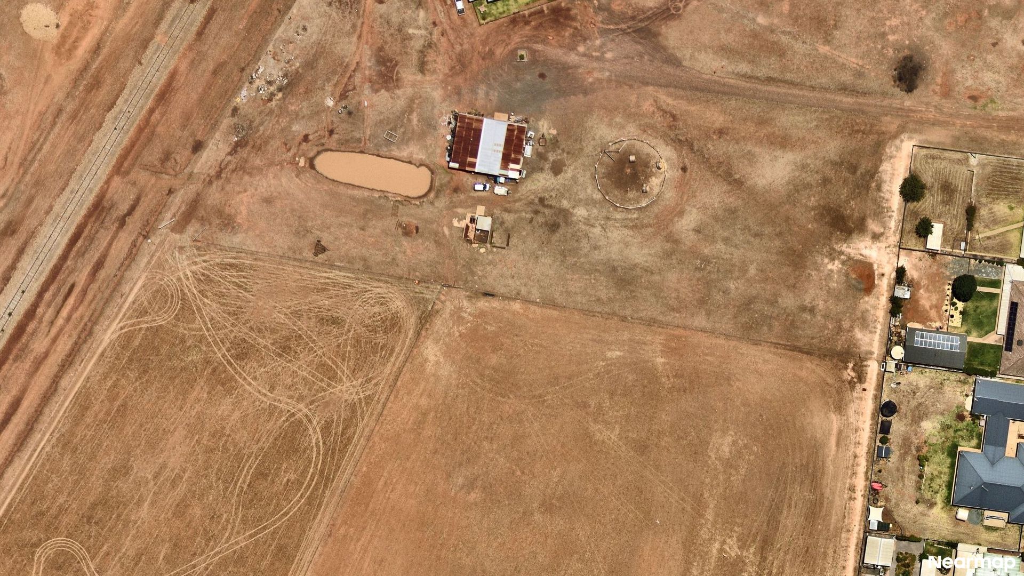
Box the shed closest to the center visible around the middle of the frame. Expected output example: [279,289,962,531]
[463,214,492,245]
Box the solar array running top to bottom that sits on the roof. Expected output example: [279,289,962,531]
[1005,302,1019,352]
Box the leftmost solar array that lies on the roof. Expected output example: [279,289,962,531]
[915,332,960,351]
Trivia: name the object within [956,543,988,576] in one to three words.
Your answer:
house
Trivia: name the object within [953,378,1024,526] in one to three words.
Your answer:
house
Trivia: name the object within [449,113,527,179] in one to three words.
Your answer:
shed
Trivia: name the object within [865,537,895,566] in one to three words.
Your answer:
shed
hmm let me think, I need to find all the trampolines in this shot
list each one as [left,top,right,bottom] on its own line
[881,401,897,417]
[880,421,892,435]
